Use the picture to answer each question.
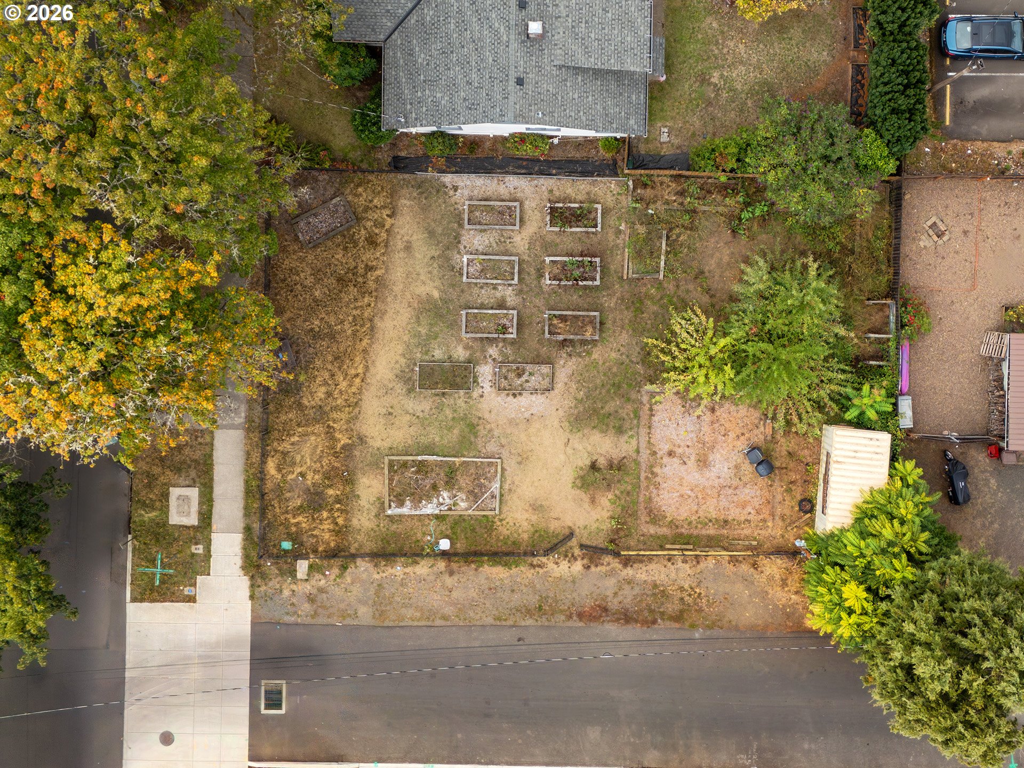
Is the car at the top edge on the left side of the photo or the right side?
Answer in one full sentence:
The car at the top edge sits on the right side.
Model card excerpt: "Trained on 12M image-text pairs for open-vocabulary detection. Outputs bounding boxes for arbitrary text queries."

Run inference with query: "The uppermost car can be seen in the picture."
[938,10,1024,61]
